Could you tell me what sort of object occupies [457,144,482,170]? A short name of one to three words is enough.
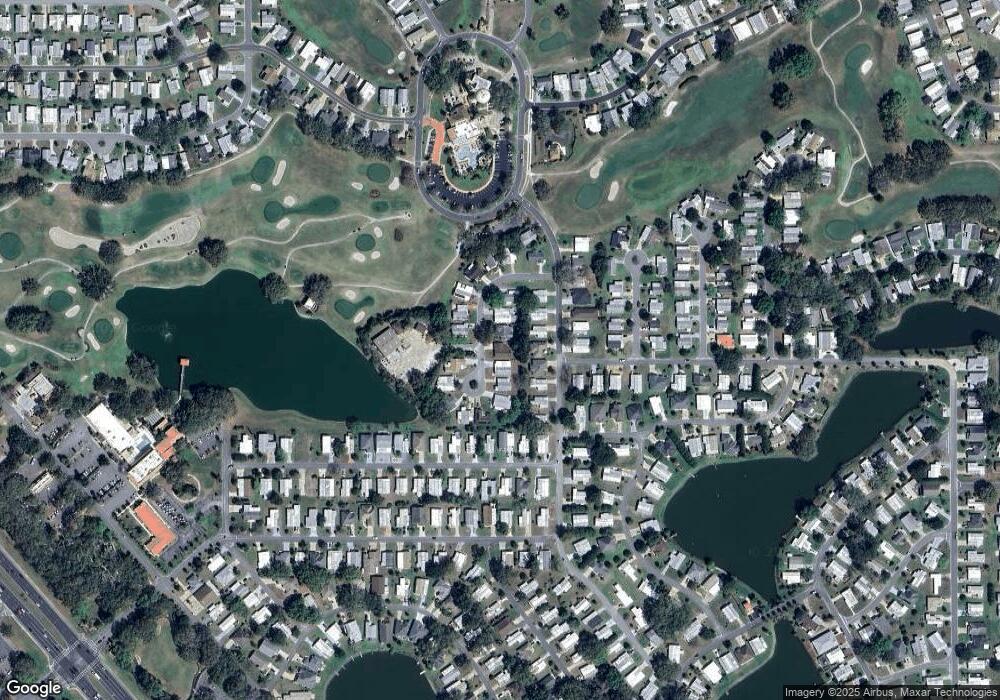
swimming pool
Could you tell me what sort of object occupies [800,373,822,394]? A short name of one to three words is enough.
house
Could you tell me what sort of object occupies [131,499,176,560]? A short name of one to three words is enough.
building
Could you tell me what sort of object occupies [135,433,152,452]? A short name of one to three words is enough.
swimming pool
